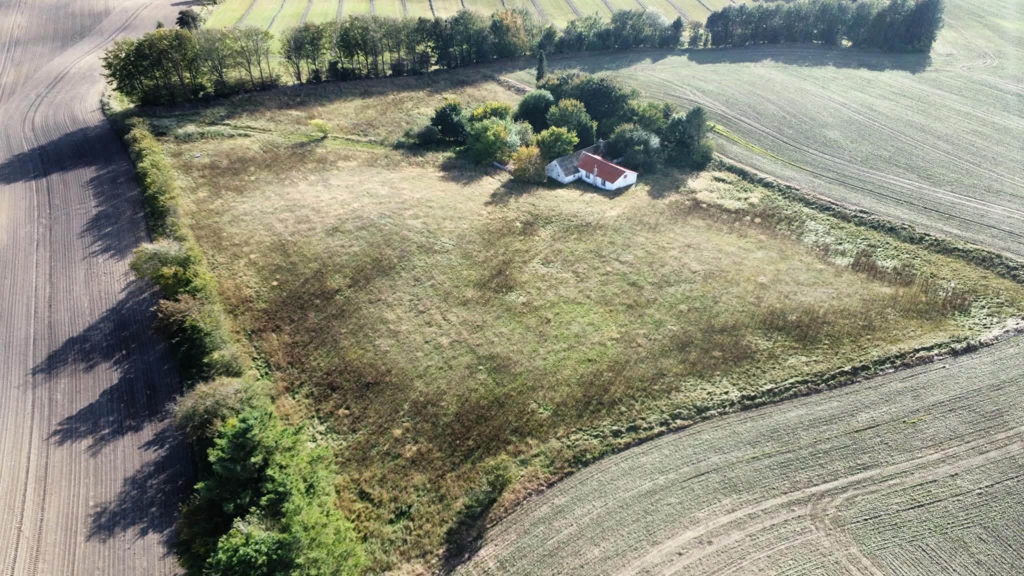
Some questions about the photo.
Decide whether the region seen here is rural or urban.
rural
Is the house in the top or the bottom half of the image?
top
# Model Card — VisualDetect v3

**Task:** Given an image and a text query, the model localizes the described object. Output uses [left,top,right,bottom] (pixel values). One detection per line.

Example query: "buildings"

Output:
[544,136,637,190]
